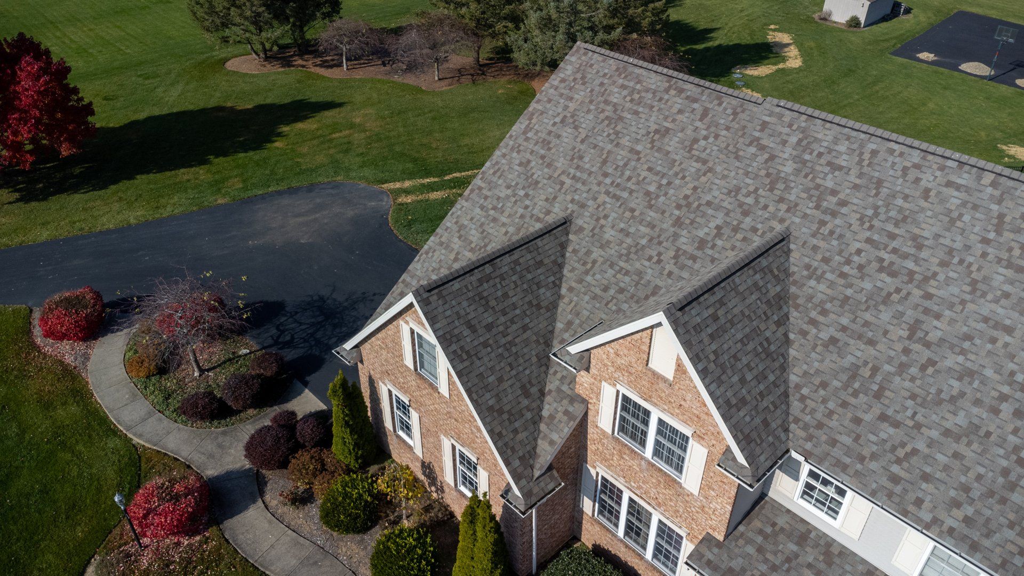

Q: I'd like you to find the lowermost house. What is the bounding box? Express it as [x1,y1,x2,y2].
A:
[331,40,1024,576]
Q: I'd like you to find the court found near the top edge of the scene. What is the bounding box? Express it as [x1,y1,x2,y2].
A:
[890,10,1024,90]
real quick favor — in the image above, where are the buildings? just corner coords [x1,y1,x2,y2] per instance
[822,0,901,27]
[331,40,1024,576]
